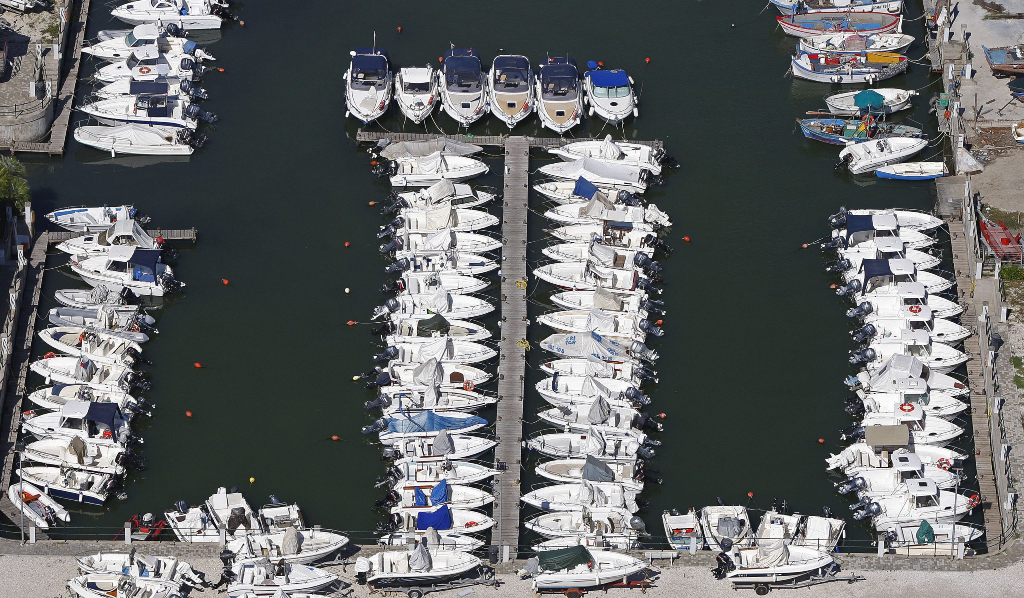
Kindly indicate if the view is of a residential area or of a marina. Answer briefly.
marina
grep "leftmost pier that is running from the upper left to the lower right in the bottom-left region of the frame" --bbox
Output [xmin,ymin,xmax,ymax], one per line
[0,491,50,539]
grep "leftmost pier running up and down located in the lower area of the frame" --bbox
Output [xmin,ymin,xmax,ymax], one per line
[0,232,49,491]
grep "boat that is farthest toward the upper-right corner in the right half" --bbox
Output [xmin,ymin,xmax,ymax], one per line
[981,40,1024,73]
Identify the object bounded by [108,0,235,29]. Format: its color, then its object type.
white boat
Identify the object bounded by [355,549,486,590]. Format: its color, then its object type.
white boat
